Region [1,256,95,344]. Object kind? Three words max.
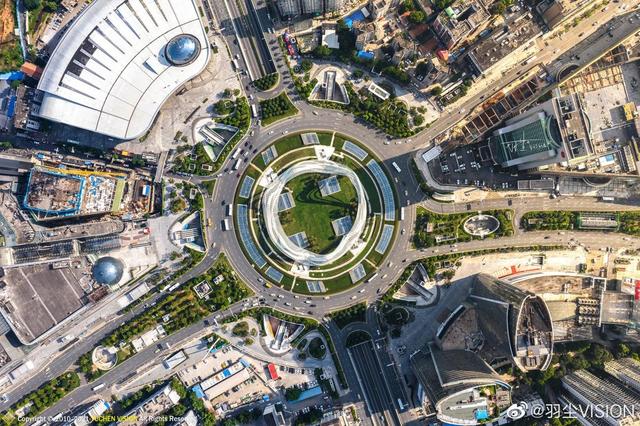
building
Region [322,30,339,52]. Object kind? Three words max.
house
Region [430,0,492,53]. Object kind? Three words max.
building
